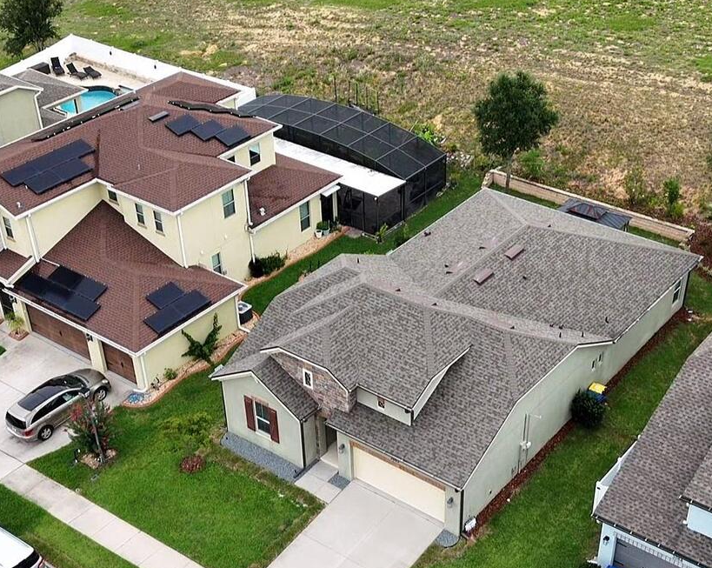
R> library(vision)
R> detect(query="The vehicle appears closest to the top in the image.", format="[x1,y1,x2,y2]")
[3,365,112,440]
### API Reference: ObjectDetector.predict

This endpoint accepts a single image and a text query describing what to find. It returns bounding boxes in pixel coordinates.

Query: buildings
[208,188,702,541]
[0,72,342,391]
[590,333,712,568]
